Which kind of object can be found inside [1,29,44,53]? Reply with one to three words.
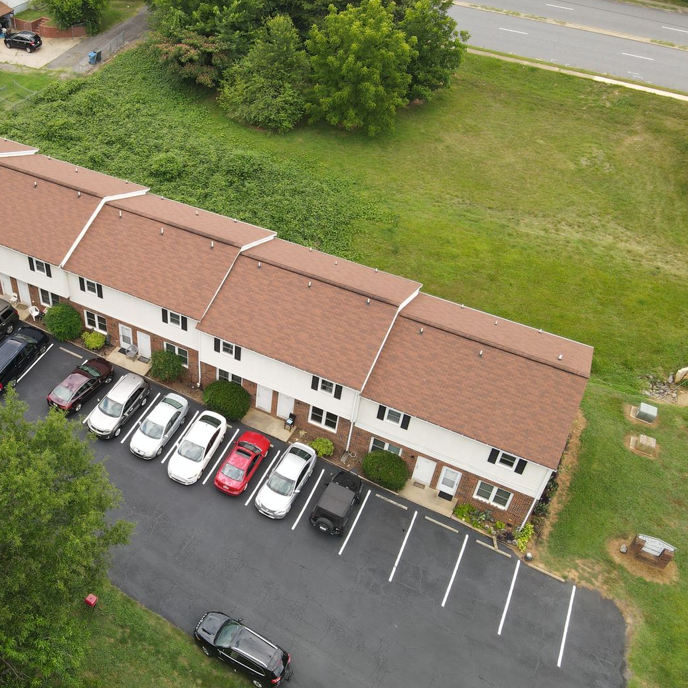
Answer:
car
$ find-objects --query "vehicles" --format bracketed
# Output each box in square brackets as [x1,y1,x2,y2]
[167,410,229,487]
[1,29,44,53]
[213,428,272,498]
[0,302,20,338]
[47,356,115,419]
[0,323,52,390]
[189,606,296,688]
[128,393,190,463]
[310,469,366,543]
[255,443,320,523]
[85,371,152,442]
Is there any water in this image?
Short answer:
No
